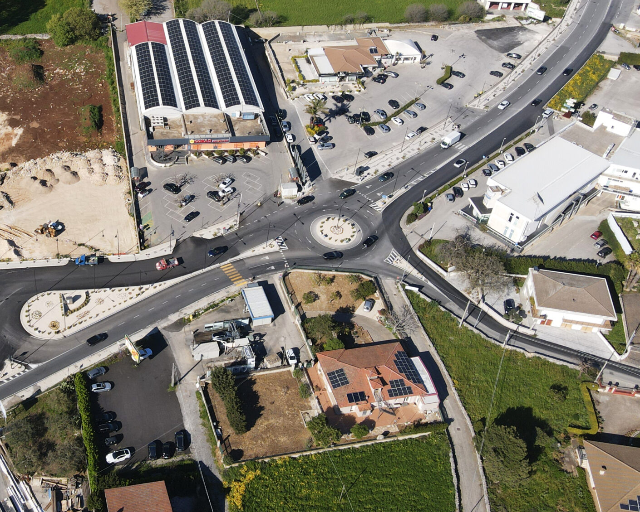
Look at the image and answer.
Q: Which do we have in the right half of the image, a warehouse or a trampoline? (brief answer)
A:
warehouse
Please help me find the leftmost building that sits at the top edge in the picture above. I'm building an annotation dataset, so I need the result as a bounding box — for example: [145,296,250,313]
[125,17,269,150]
